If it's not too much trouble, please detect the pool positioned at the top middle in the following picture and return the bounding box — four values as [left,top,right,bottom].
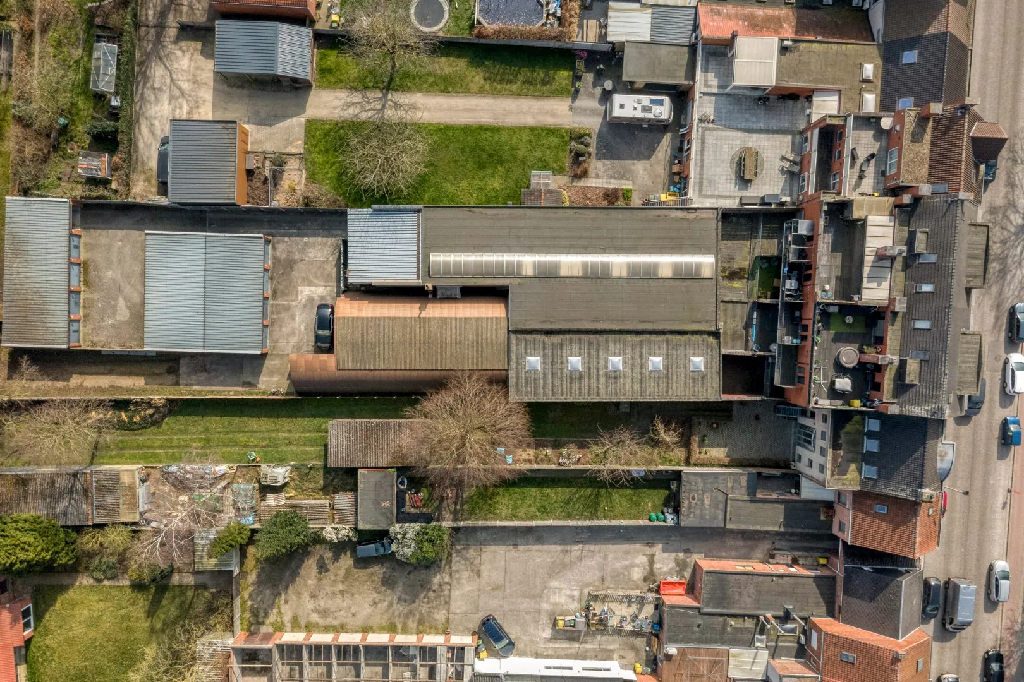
[474,0,549,30]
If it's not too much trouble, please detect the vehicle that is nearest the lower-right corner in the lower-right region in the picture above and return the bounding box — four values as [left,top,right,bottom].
[979,645,1007,682]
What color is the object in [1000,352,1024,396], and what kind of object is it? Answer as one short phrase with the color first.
white car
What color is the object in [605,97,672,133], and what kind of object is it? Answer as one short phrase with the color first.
white van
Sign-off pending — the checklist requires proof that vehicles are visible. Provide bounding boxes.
[965,377,985,418]
[353,536,391,561]
[997,415,1023,448]
[1000,352,1024,396]
[312,304,332,351]
[983,558,1012,604]
[1003,301,1024,345]
[605,97,672,133]
[941,574,979,631]
[922,574,943,619]
[478,612,515,652]
[153,136,169,183]
[979,645,1007,682]
[985,159,999,192]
